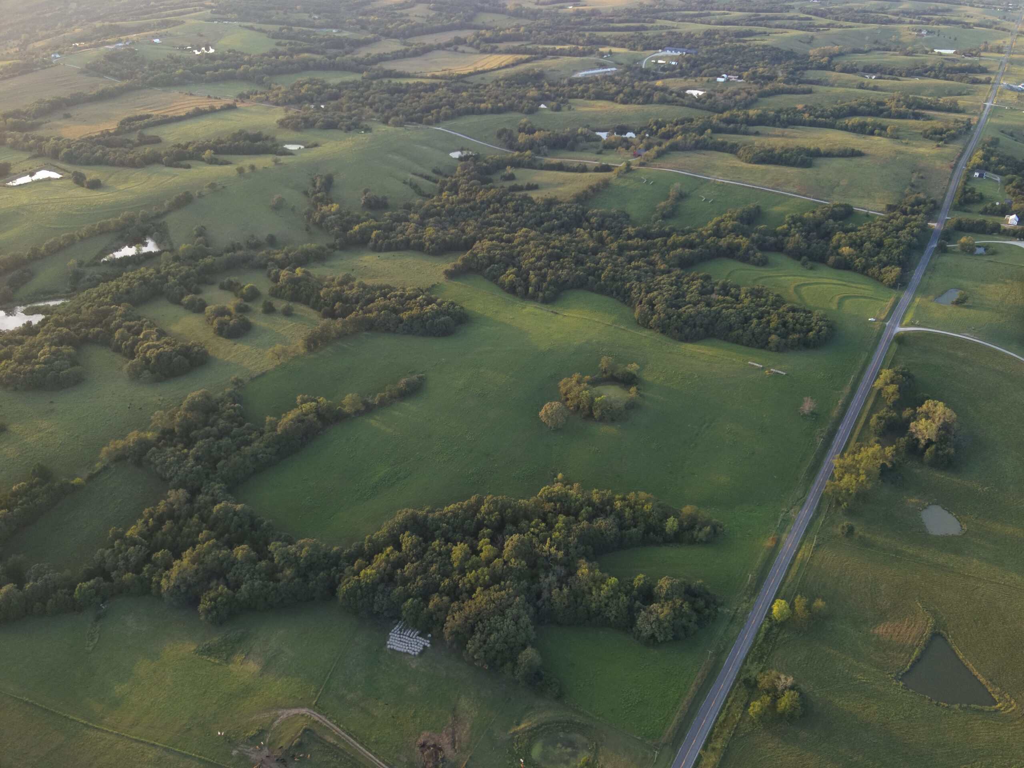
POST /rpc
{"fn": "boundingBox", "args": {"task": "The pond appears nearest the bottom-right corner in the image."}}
[902,635,995,705]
